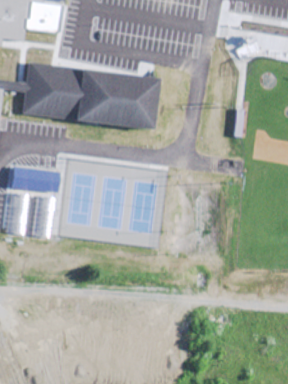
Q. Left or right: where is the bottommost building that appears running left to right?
left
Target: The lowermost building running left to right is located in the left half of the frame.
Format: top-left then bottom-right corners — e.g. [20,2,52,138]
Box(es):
[12,168,60,192]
